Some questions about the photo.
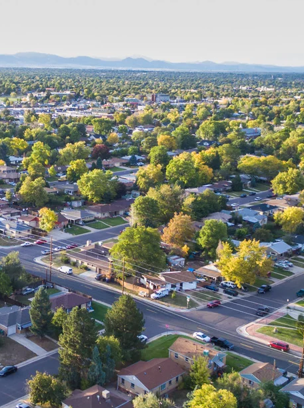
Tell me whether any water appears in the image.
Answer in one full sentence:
No, water can't be seen anywhere here.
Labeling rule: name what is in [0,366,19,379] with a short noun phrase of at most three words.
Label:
vehicle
